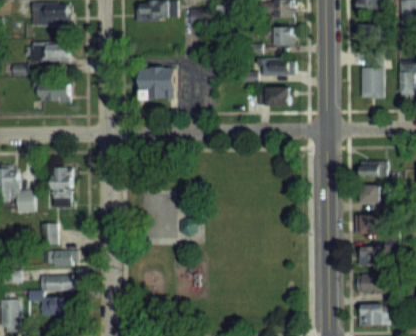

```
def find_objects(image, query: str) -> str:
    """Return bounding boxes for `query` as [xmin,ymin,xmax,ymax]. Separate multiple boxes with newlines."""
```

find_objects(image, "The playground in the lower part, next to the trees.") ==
[175,259,207,300]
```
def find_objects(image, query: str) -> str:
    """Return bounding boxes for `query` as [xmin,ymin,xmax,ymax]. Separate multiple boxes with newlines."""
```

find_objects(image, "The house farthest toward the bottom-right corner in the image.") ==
[356,304,390,327]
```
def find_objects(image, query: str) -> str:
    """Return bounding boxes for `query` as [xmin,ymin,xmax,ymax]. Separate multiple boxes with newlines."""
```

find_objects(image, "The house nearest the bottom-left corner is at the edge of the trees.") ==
[0,299,22,333]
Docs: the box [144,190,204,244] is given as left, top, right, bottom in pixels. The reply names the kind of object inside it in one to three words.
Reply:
sports court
